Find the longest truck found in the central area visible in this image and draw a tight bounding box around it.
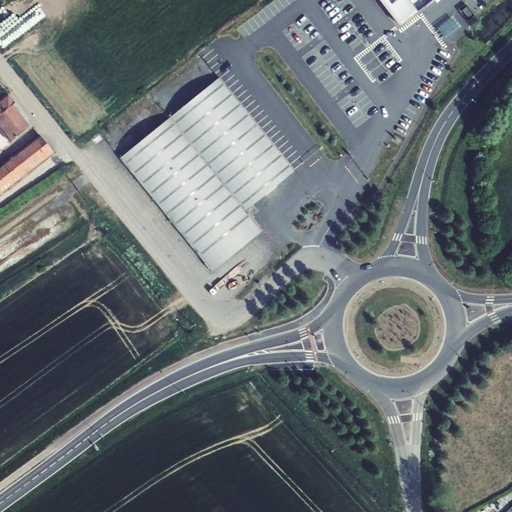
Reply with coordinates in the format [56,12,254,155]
[208,260,250,296]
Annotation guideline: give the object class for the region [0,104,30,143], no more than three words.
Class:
house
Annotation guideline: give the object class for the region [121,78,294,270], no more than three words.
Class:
warehouse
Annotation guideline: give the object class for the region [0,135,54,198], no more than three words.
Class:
barn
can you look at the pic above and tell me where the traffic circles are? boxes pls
[323,258,467,396]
